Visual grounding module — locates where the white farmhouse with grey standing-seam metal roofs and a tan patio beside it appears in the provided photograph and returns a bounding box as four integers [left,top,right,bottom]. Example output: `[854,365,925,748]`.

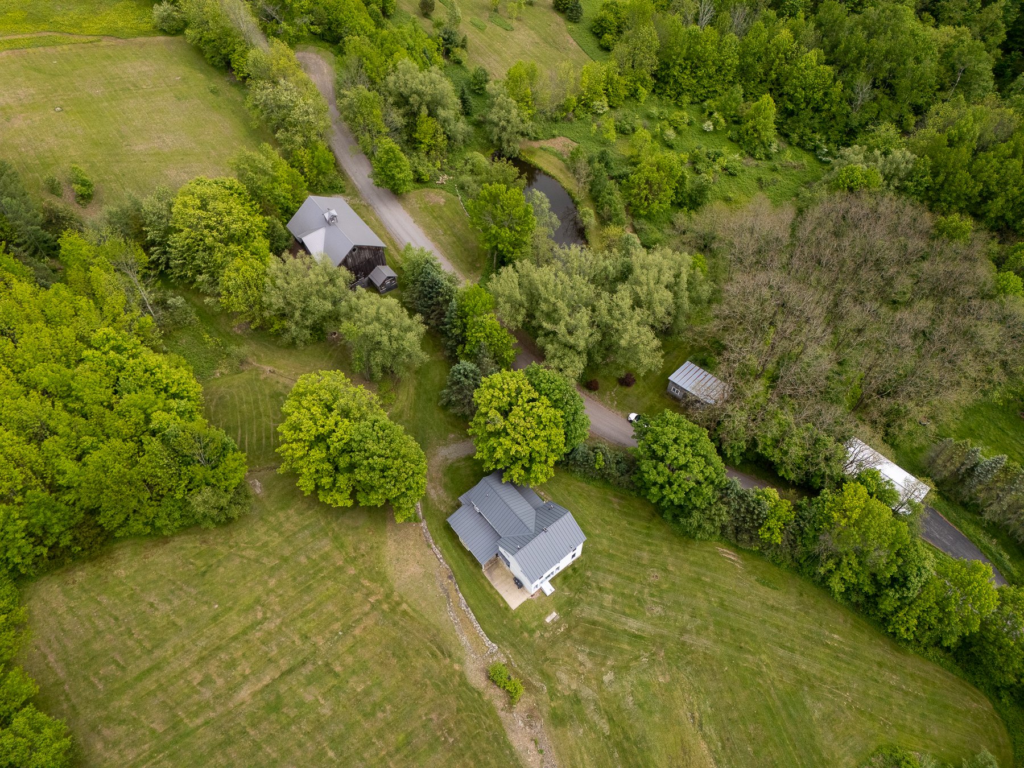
[445,473,587,594]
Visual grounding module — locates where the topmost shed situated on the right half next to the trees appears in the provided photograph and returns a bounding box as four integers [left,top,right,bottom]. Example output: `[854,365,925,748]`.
[668,357,729,411]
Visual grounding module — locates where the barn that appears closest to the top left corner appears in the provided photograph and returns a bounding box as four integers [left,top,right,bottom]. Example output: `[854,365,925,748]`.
[287,195,386,289]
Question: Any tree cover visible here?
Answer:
Yes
